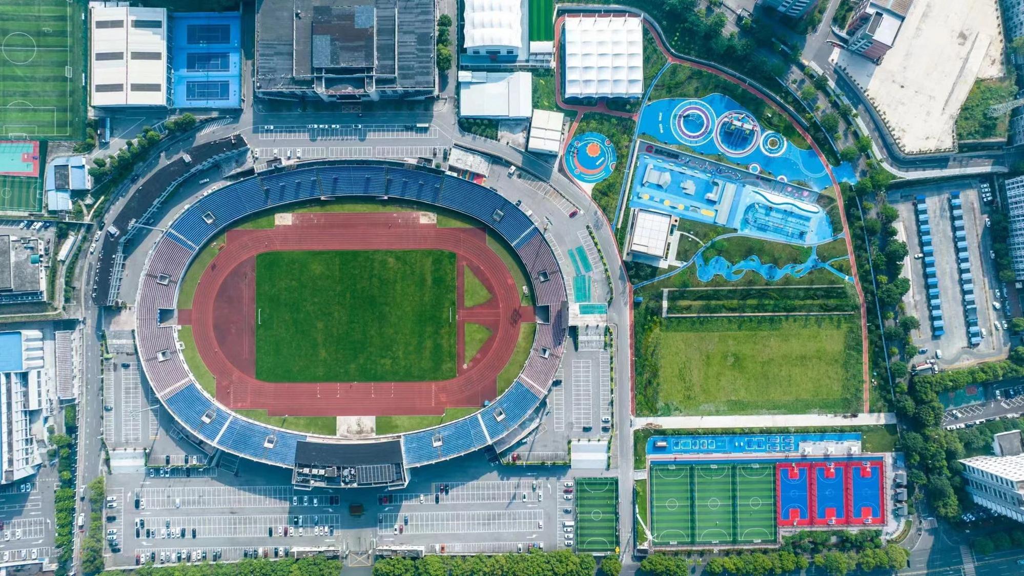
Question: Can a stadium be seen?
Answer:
Yes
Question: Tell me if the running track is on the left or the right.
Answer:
left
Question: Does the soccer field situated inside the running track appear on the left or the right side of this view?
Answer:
left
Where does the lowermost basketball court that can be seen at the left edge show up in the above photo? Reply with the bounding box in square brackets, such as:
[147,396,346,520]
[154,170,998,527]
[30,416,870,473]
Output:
[0,141,39,177]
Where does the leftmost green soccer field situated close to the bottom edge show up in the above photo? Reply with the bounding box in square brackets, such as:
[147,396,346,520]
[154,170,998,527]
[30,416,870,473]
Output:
[576,477,618,552]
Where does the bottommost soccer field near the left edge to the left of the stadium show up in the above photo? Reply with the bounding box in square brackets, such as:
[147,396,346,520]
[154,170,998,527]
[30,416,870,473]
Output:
[0,176,43,212]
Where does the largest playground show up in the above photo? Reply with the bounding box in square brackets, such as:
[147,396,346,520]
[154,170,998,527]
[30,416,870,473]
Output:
[637,92,850,192]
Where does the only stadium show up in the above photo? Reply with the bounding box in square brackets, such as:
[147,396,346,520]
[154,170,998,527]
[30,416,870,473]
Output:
[135,156,568,490]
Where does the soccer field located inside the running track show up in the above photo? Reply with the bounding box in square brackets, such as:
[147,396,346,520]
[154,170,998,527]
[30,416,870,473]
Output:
[256,250,457,382]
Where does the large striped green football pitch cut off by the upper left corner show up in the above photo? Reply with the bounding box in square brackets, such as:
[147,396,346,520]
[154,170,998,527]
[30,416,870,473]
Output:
[0,0,86,141]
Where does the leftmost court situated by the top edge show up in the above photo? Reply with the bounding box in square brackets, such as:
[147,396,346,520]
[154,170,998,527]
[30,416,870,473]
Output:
[173,12,241,108]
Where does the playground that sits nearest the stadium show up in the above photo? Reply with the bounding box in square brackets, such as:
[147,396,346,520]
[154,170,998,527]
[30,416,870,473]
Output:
[564,132,617,184]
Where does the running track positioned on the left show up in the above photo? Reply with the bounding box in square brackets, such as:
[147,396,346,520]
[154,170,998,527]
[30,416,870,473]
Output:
[177,212,535,416]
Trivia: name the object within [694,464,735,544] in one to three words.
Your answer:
soccer field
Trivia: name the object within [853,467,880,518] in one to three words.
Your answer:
basketball court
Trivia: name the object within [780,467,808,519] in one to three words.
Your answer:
basketball court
